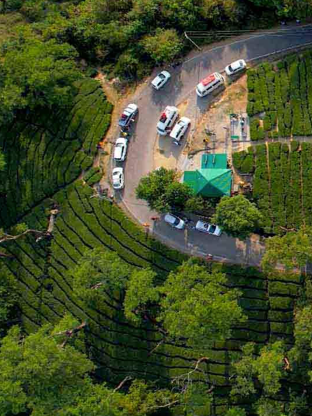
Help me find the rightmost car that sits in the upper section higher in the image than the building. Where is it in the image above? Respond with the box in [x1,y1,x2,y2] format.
[224,59,247,77]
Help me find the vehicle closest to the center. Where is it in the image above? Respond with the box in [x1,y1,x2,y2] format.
[162,213,187,231]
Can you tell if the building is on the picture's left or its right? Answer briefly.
right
